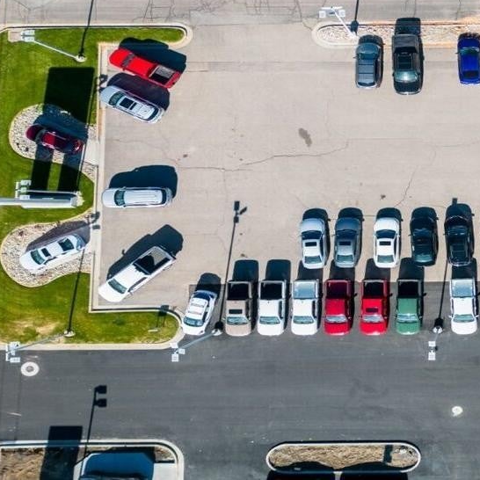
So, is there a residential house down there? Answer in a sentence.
No, there appears to be no residential house in this shot.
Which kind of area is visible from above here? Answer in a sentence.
This looks like a parking lot.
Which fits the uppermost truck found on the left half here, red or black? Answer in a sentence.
In this view, the uppermost truck found on the left half is red.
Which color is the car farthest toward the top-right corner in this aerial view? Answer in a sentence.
In this view, the car farthest toward the top-right corner is blue.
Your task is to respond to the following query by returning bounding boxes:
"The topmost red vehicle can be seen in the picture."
[106,50,184,88]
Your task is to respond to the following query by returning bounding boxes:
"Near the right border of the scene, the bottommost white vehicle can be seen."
[449,277,480,336]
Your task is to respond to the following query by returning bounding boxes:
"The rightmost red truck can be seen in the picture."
[359,277,389,336]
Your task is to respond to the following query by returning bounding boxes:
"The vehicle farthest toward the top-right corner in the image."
[456,38,480,86]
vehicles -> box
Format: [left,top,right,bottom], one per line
[255,275,287,336]
[18,237,87,269]
[352,38,382,88]
[96,249,182,297]
[449,277,480,336]
[373,215,402,266]
[101,186,173,211]
[359,277,389,336]
[98,87,166,121]
[409,215,438,266]
[392,277,424,336]
[288,277,320,336]
[106,50,184,88]
[332,216,362,267]
[391,30,424,93]
[298,216,329,267]
[179,289,217,337]
[445,214,475,265]
[322,277,353,336]
[456,38,480,86]
[24,124,85,153]
[220,277,254,336]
